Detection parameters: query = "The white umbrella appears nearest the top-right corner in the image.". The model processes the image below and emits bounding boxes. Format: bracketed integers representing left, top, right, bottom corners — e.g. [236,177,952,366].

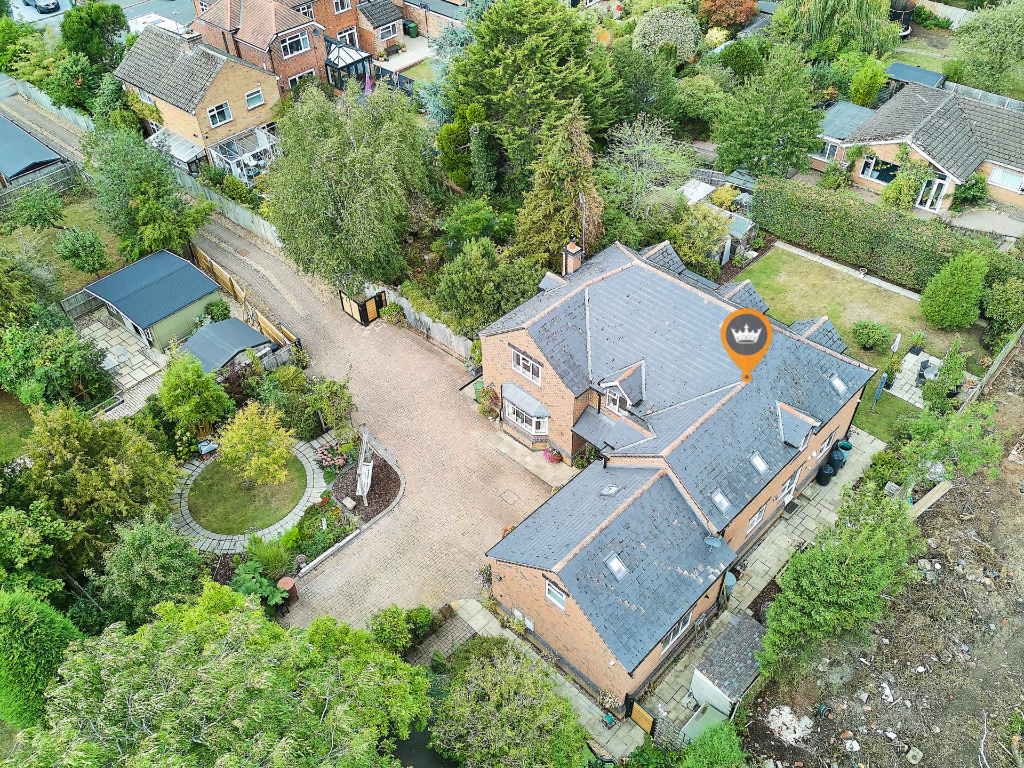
[888,326,904,355]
